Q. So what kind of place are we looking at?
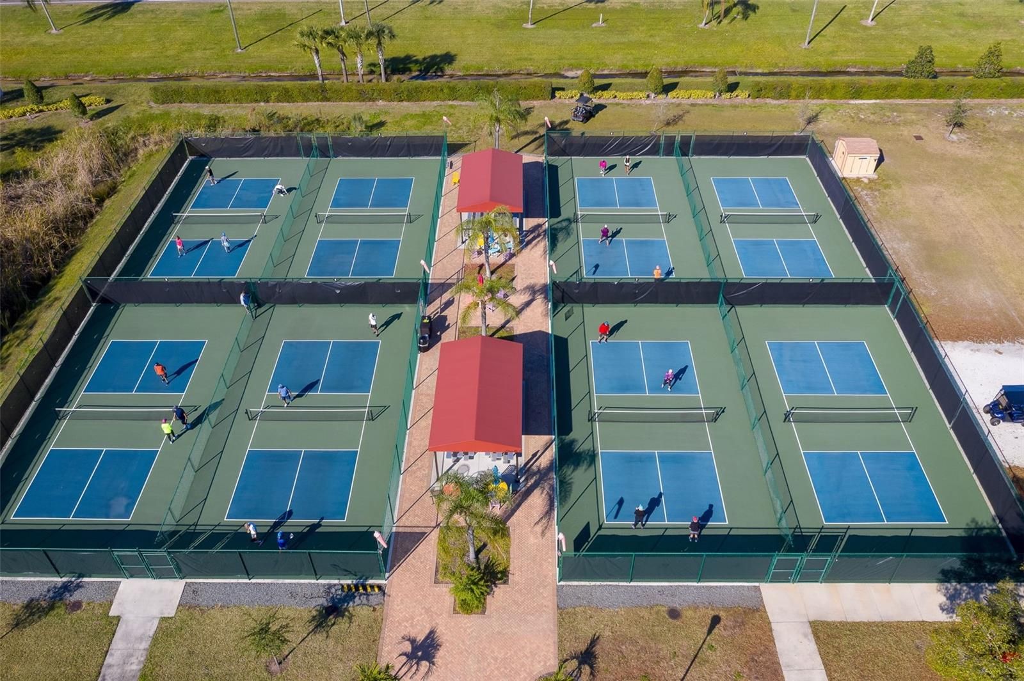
sports ground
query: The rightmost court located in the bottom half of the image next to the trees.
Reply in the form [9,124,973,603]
[717,305,1020,580]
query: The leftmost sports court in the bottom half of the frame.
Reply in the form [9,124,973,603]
[0,304,261,574]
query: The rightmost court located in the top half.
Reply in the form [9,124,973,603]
[676,157,883,305]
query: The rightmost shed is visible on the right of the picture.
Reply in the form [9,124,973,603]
[831,133,883,176]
